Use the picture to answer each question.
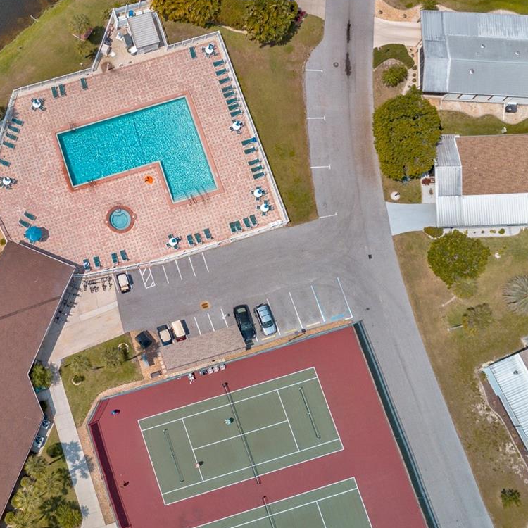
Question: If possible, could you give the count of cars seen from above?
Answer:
2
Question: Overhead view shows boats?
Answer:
No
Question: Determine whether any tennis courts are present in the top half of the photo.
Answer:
No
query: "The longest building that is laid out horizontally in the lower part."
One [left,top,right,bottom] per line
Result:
[161,327,245,371]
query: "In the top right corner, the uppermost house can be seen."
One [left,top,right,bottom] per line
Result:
[418,10,528,103]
